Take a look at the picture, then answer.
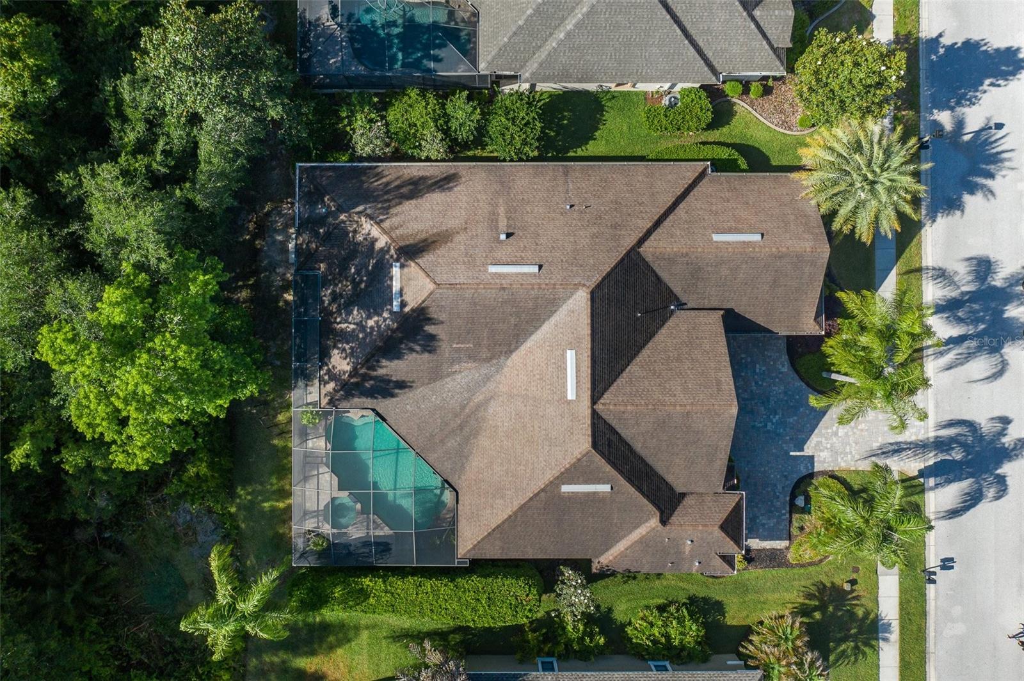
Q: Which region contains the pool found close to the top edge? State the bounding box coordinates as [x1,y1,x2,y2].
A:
[326,0,474,71]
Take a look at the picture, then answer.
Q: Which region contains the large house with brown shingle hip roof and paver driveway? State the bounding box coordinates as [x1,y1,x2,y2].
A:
[293,161,833,575]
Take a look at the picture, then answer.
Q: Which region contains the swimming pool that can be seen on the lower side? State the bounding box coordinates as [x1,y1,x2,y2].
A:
[322,414,450,533]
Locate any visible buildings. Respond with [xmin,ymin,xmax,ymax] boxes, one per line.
[293,161,833,575]
[479,0,799,91]
[463,657,763,681]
